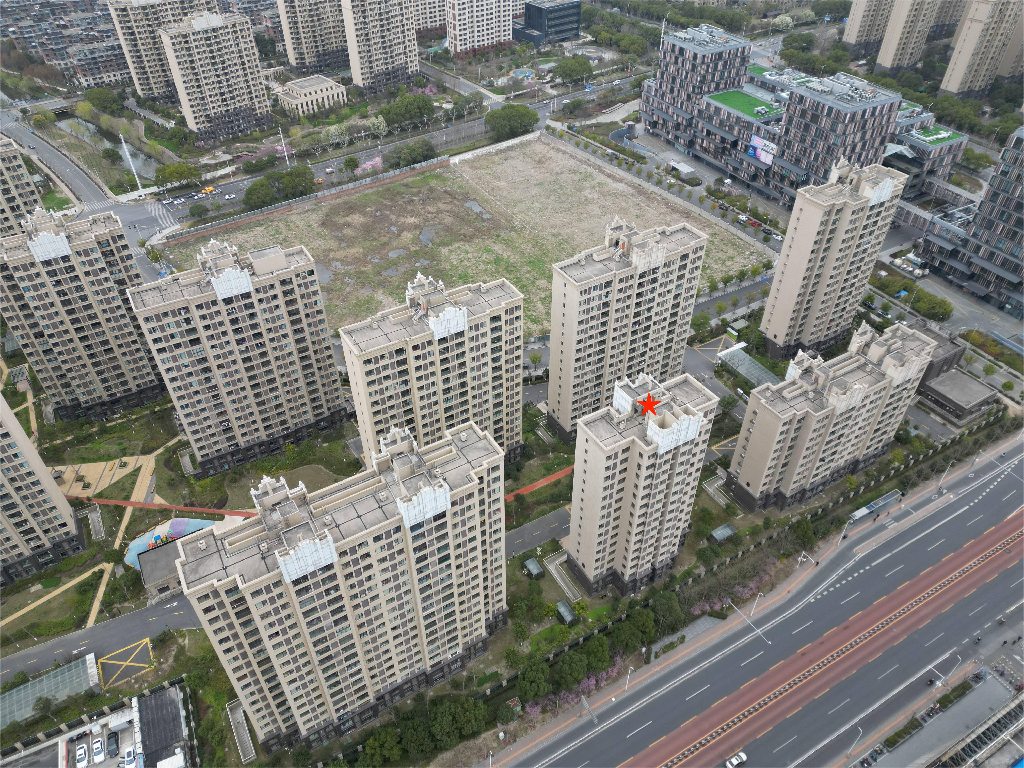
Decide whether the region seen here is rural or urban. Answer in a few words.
urban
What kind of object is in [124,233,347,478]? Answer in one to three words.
building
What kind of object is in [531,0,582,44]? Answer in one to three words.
building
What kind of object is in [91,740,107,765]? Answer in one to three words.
car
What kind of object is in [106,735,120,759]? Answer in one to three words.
car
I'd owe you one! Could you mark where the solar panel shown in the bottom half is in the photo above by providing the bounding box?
[868,487,902,509]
